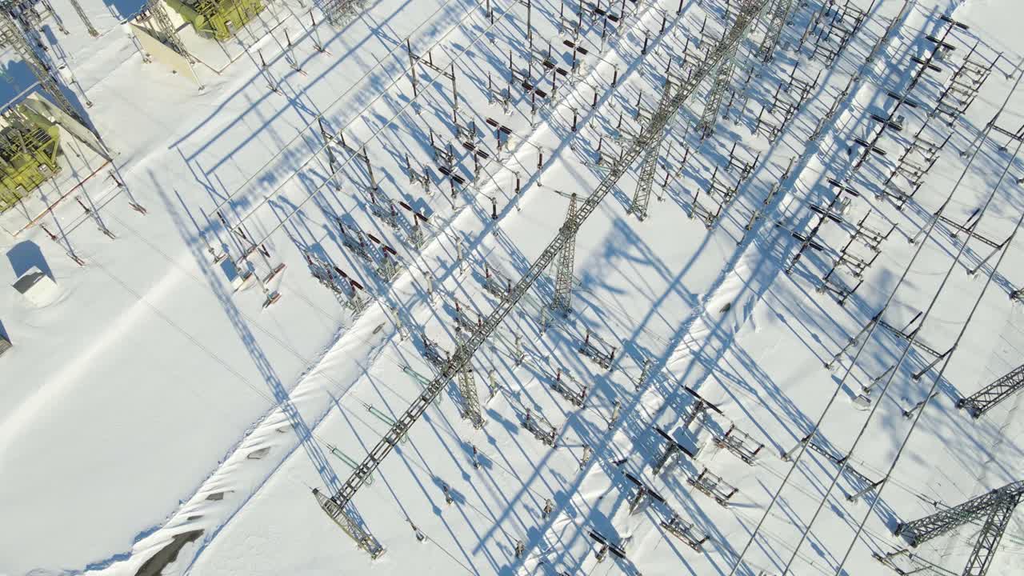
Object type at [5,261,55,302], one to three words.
shed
